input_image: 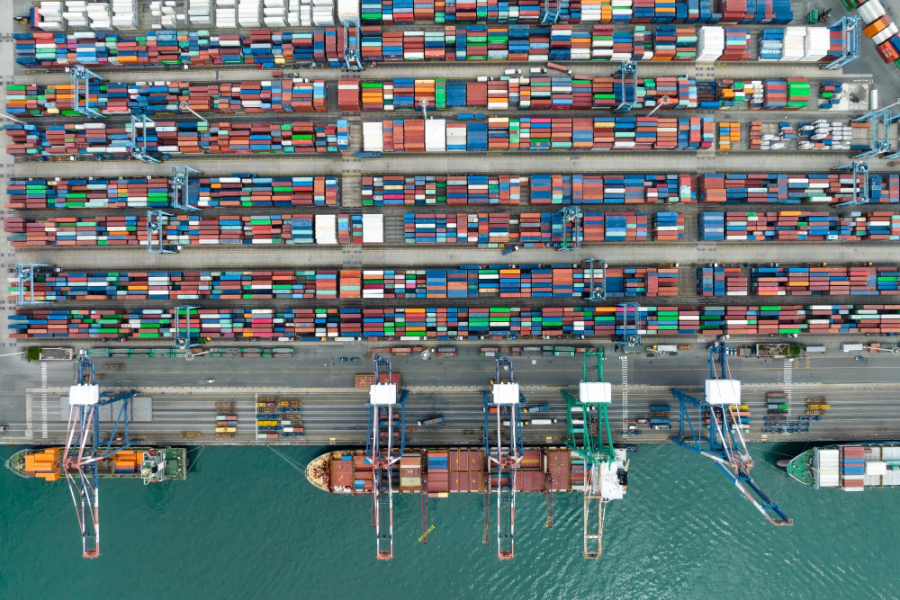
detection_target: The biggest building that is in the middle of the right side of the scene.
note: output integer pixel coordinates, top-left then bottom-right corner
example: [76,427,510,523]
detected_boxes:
[753,343,789,357]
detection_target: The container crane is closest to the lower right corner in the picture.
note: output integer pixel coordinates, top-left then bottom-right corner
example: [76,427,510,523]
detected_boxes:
[666,349,791,524]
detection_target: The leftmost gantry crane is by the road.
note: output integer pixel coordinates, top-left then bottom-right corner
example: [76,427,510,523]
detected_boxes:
[15,262,64,303]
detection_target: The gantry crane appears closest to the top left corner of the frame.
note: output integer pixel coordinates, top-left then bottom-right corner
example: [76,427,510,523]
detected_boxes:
[69,63,117,116]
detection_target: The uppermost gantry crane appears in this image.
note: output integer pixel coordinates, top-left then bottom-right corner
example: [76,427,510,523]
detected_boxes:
[533,0,564,25]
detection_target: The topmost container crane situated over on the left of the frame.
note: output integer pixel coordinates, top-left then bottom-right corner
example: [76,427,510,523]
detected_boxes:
[340,12,371,69]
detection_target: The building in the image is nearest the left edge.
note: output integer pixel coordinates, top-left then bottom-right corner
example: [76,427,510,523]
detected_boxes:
[39,347,78,360]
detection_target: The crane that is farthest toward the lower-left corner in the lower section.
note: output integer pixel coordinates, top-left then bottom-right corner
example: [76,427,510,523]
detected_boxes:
[59,351,152,560]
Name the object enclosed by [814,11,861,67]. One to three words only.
container crane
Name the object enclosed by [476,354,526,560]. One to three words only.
container crane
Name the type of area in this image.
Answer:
port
